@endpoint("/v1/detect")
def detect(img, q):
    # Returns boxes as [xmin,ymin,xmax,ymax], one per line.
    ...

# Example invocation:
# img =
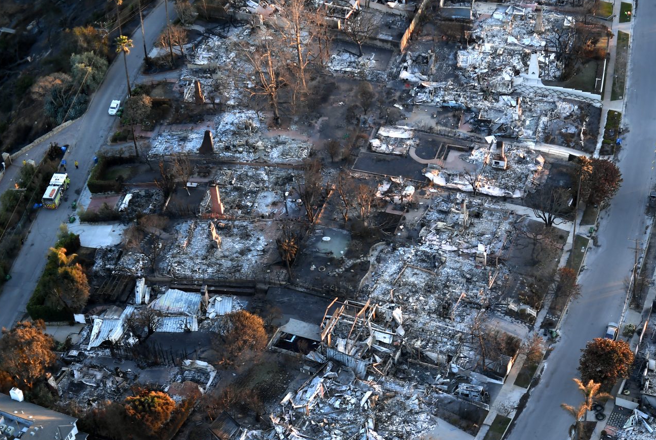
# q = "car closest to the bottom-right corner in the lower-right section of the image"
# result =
[603,319,623,342]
